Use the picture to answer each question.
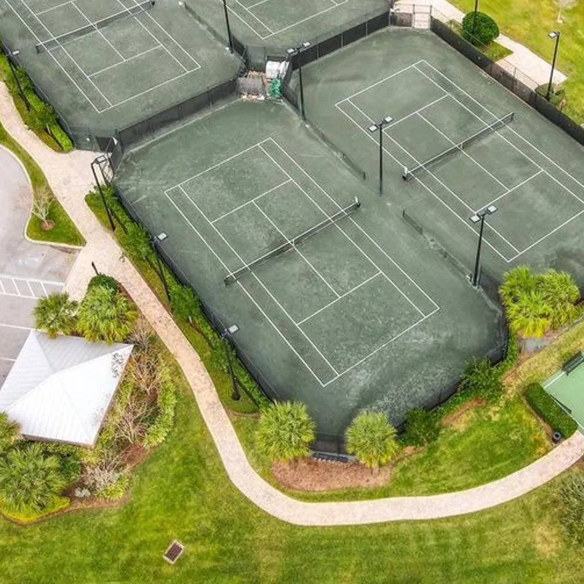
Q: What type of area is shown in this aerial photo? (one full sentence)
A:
This image shows a sports ground.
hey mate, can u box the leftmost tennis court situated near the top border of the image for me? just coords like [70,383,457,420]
[0,0,247,152]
